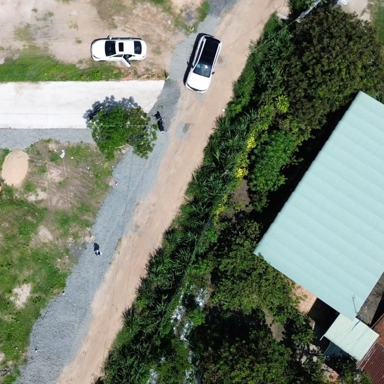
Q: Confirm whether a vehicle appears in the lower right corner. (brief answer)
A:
No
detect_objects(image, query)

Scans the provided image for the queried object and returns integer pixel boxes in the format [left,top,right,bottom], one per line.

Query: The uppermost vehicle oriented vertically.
[187,34,218,91]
